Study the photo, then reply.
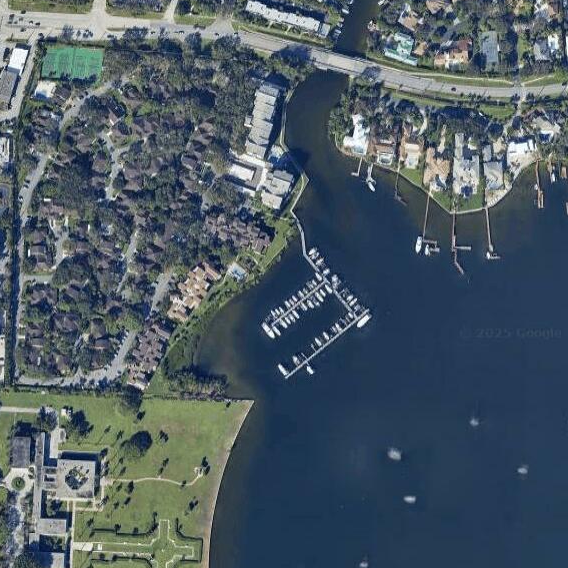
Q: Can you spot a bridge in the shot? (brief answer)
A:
Yes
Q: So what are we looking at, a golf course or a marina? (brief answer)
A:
marina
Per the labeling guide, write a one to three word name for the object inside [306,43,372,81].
bridge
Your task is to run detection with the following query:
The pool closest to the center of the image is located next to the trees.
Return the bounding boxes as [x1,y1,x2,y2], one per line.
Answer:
[225,260,251,284]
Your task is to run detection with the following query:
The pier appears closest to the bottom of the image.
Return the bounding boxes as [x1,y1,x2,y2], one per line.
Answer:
[284,309,370,380]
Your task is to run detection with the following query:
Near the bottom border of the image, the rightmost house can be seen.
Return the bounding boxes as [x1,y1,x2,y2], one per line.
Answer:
[29,433,96,568]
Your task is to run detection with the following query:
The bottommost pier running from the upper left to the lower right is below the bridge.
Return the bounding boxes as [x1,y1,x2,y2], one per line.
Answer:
[295,217,360,318]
